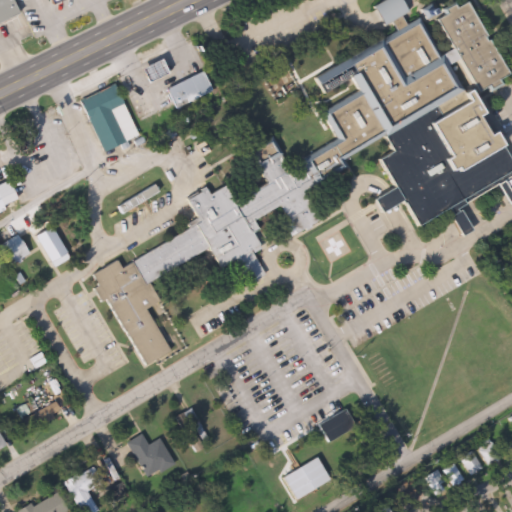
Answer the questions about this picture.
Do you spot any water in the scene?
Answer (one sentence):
No, there's no water in this view.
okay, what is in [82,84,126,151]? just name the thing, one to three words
building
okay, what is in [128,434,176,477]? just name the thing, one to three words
house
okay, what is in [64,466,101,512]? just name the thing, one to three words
house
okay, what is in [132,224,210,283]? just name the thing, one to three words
building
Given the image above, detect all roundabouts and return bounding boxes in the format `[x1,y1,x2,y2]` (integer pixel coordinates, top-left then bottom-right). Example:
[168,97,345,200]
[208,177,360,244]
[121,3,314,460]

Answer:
[240,238,330,314]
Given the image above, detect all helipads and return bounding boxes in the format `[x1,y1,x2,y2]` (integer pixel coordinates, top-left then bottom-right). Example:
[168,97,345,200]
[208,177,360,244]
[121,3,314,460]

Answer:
[316,229,352,262]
